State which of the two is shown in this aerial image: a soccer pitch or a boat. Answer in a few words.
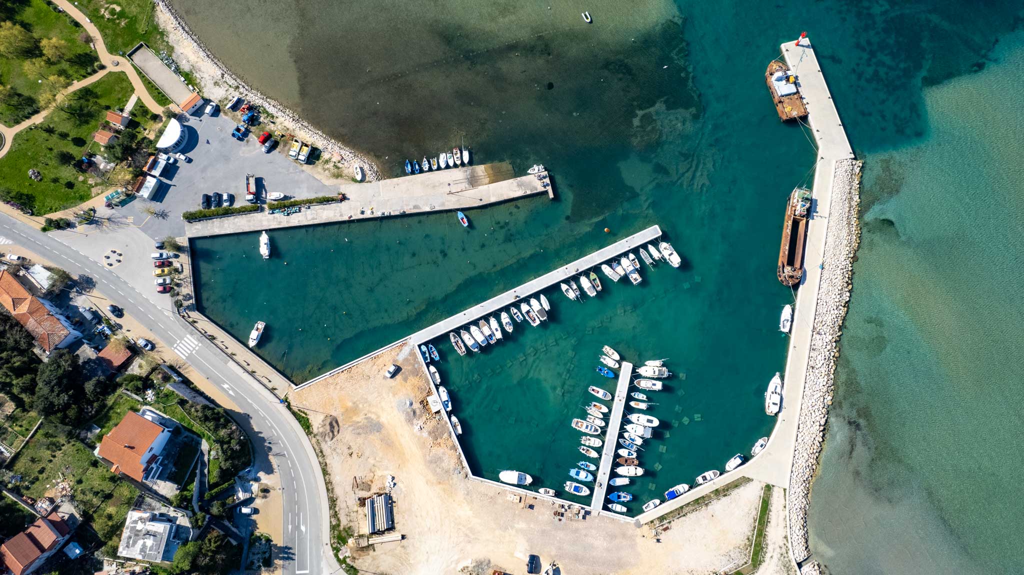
boat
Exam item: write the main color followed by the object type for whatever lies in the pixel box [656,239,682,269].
white boat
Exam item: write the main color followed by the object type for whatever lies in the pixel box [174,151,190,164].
white vehicle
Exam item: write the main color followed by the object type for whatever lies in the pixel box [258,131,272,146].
red car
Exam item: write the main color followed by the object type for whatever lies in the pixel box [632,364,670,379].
white boat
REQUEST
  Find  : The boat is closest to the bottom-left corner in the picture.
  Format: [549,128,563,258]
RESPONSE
[248,320,266,347]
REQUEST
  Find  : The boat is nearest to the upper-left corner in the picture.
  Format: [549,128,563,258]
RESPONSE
[226,95,240,109]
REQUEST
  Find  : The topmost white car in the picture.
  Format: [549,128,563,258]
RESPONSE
[203,101,217,116]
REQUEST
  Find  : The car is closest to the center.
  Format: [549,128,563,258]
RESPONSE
[384,363,399,380]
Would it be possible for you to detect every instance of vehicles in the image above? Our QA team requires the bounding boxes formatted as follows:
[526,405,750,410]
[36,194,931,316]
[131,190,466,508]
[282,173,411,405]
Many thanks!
[79,306,98,323]
[243,173,257,201]
[203,101,217,116]
[297,143,310,162]
[148,251,169,260]
[107,304,123,318]
[153,277,173,286]
[200,192,210,208]
[235,506,257,516]
[137,337,154,351]
[288,140,301,159]
[153,259,172,267]
[212,192,220,207]
[262,137,276,154]
[529,553,537,575]
[174,151,190,164]
[157,151,176,166]
[155,285,173,293]
[152,241,170,249]
[258,131,272,146]
[223,192,231,207]
[152,268,169,277]
[5,253,23,262]
[384,363,399,380]
[244,111,256,125]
